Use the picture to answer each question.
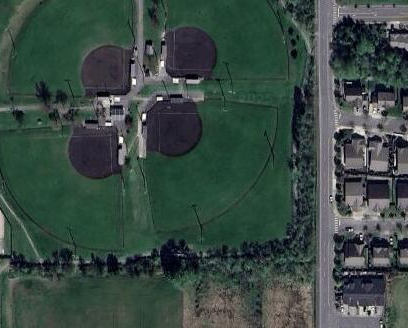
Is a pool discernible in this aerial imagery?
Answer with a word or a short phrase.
No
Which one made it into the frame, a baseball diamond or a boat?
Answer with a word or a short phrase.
baseball diamond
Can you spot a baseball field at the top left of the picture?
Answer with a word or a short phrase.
Yes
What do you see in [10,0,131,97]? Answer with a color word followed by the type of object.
green baseball field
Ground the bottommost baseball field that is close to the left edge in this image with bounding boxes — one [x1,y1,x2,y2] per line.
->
[0,125,122,249]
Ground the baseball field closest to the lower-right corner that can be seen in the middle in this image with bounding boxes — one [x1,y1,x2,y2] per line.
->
[145,100,276,232]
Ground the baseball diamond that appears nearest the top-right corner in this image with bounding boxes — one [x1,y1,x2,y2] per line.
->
[166,0,288,79]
